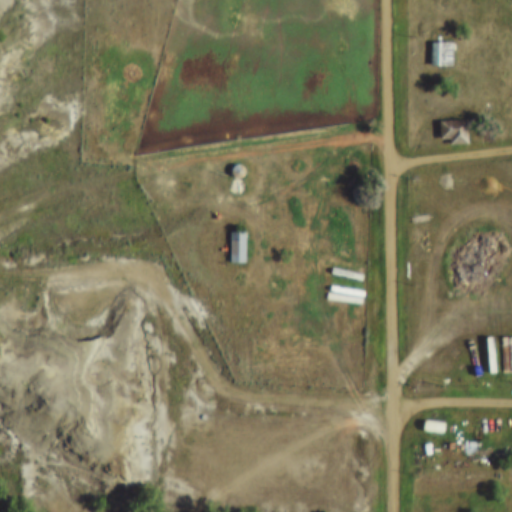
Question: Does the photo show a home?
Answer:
Yes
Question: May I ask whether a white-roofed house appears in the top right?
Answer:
Yes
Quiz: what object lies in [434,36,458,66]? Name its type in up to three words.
house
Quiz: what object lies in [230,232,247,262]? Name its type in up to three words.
shed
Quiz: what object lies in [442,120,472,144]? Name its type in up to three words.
house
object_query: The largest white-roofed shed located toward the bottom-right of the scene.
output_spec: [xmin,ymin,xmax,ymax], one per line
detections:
[424,420,448,435]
